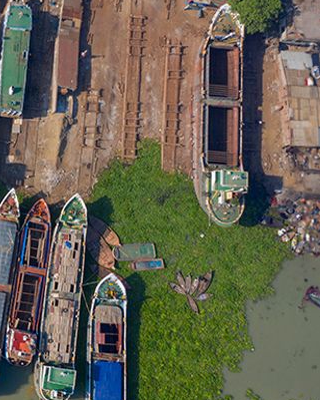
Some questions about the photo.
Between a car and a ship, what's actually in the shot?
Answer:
ship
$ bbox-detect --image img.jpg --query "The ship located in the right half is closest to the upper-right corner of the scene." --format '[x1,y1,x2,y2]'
[197,2,249,224]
